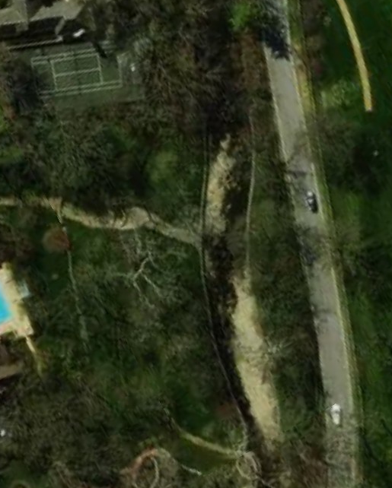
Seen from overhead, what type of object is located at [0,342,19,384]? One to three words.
building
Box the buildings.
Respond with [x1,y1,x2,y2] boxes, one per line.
[0,342,19,384]
[0,0,81,38]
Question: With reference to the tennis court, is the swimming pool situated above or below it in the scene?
below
